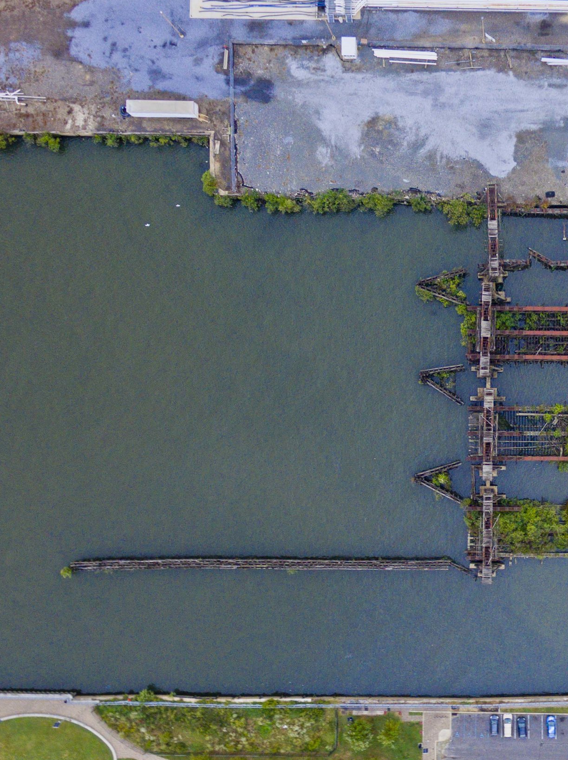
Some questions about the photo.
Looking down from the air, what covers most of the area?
water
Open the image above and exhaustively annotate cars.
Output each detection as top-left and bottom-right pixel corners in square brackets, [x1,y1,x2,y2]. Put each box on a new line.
[546,715,557,738]
[517,716,527,740]
[502,713,512,738]
[490,715,500,736]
